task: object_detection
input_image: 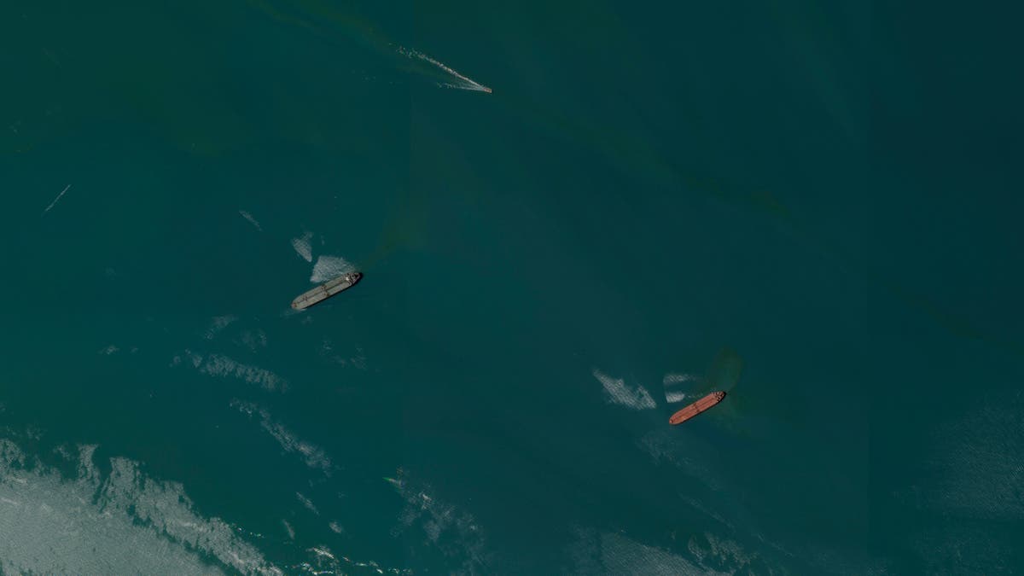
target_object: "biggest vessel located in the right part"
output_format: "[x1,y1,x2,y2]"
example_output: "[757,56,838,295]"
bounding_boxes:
[669,392,725,424]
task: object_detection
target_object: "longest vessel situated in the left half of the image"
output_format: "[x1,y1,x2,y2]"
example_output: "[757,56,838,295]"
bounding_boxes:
[291,273,361,308]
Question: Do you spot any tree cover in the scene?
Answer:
No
